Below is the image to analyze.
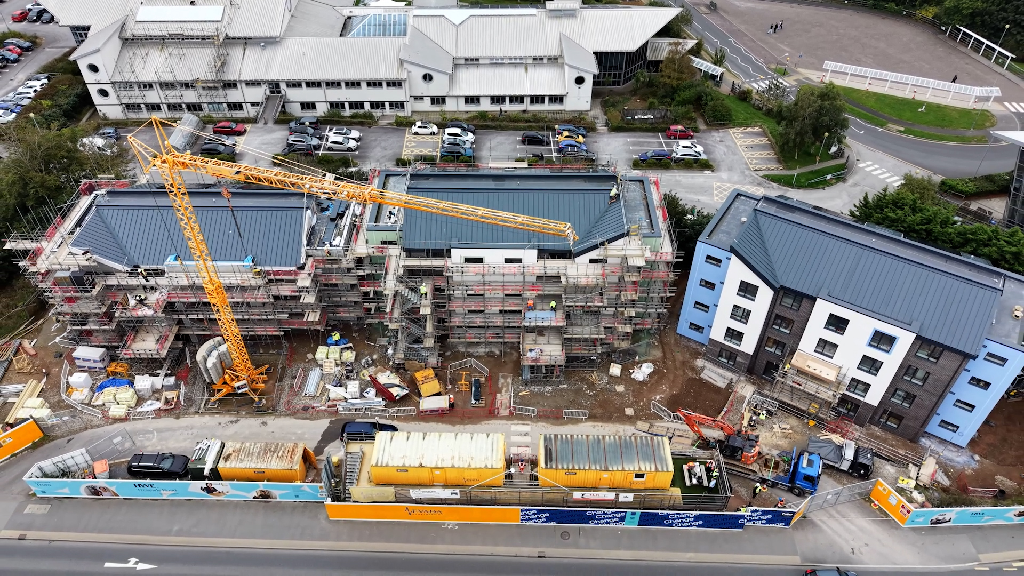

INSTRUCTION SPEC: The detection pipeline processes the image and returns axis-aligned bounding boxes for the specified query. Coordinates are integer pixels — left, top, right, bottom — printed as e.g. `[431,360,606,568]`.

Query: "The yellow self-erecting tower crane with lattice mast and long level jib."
[125,113,587,408]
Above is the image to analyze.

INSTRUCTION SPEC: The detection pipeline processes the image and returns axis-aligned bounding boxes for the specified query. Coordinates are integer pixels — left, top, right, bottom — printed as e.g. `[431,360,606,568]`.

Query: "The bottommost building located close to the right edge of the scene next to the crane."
[677,187,1024,447]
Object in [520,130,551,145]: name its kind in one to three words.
car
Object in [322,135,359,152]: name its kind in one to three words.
car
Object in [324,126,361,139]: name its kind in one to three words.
vehicle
